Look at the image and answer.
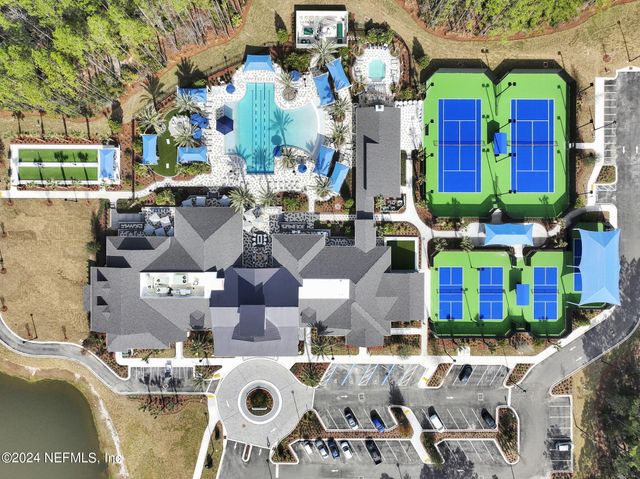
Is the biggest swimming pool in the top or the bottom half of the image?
top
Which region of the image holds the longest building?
center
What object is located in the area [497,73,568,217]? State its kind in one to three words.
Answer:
tennis court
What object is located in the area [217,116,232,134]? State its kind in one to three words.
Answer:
umbrella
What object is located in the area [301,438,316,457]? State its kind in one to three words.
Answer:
car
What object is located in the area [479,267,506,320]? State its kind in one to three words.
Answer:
sports court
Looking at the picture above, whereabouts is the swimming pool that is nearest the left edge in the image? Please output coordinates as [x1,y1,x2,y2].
[224,82,320,174]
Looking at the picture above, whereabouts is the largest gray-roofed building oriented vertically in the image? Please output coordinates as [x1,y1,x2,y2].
[356,105,401,212]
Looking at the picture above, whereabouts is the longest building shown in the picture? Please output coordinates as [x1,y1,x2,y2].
[84,207,424,356]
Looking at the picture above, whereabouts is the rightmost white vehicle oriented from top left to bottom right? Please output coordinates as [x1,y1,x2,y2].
[428,411,443,431]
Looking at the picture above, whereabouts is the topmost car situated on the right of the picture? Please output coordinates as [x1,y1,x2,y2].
[458,363,472,382]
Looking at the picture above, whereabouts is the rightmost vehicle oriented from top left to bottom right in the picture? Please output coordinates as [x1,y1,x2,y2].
[481,409,495,428]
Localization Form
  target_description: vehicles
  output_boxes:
[481,409,495,428]
[326,440,341,458]
[301,438,316,457]
[428,411,443,431]
[550,441,569,452]
[371,414,385,433]
[344,411,359,430]
[366,442,382,465]
[339,441,354,460]
[458,363,472,382]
